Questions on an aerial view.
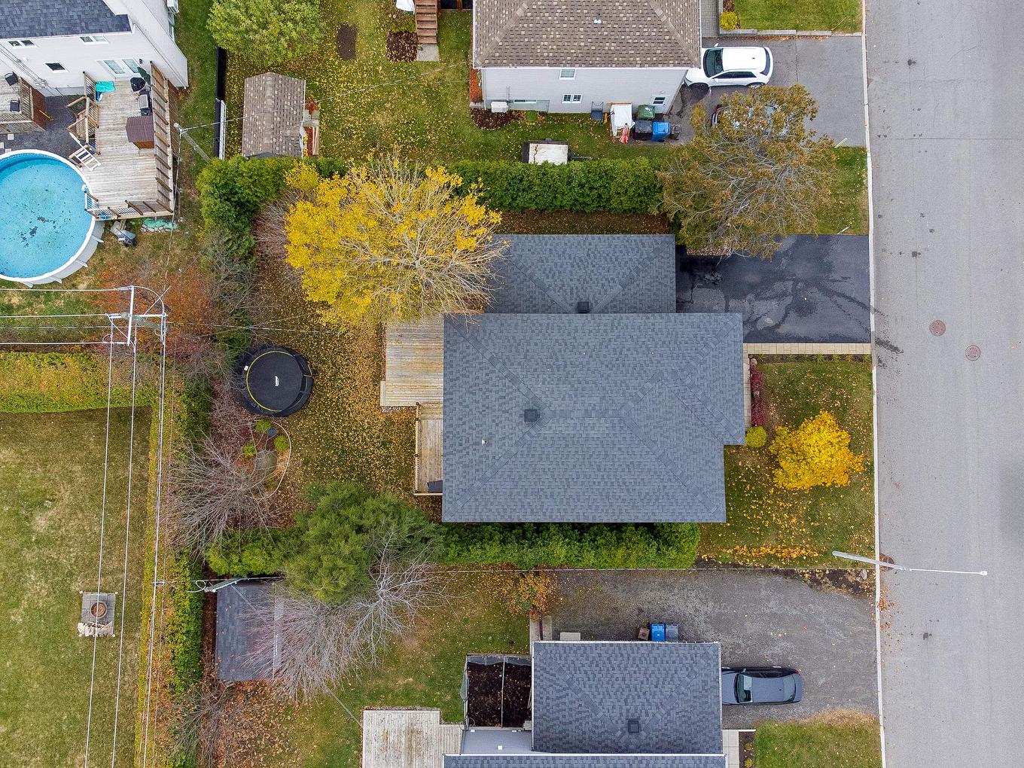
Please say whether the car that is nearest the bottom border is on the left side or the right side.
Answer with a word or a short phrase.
right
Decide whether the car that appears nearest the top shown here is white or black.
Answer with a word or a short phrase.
white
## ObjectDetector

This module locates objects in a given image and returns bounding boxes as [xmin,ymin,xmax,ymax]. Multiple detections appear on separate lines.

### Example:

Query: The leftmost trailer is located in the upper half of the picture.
[525,135,595,166]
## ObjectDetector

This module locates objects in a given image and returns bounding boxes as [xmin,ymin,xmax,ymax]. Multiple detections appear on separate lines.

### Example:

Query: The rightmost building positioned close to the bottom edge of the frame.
[443,637,727,768]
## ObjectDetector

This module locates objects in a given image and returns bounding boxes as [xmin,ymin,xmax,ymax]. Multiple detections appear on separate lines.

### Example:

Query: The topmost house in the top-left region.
[0,0,186,96]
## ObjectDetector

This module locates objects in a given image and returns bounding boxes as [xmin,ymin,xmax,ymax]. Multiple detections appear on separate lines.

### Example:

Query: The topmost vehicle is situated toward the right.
[688,42,771,86]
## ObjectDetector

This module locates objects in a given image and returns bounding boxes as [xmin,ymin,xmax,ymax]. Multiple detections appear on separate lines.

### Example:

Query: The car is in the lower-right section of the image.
[721,665,805,710]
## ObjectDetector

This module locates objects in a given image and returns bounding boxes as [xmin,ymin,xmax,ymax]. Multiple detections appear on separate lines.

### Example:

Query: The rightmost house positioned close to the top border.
[473,0,704,114]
